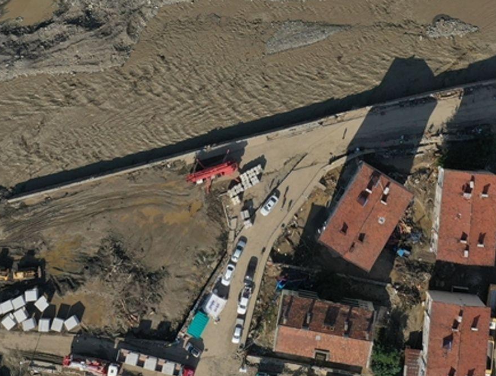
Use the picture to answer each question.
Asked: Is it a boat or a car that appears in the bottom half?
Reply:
car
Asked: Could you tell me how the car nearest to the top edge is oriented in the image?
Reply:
diagonally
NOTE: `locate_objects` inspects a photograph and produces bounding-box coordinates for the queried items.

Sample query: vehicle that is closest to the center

[259,190,280,217]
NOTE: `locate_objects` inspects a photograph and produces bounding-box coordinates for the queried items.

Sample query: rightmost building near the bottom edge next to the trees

[420,280,491,376]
